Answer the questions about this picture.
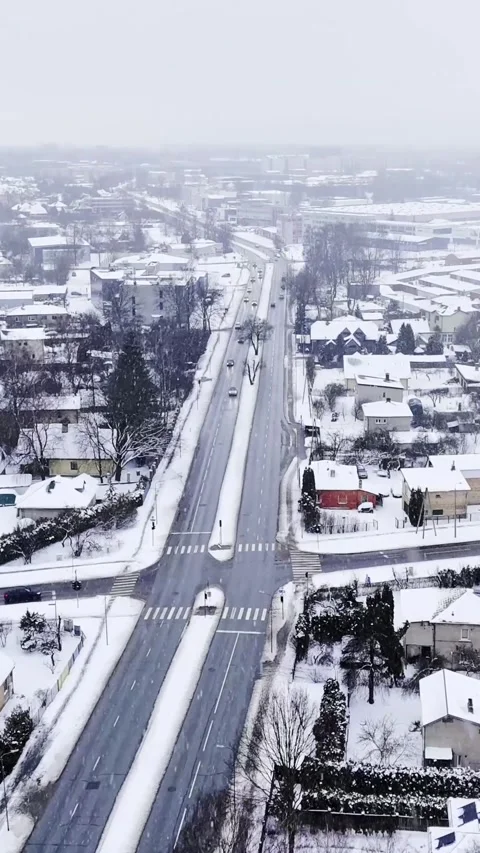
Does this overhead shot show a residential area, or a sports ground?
residential area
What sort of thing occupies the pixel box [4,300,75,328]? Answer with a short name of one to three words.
house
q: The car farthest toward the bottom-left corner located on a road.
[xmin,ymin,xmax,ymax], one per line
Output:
[2,587,40,605]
